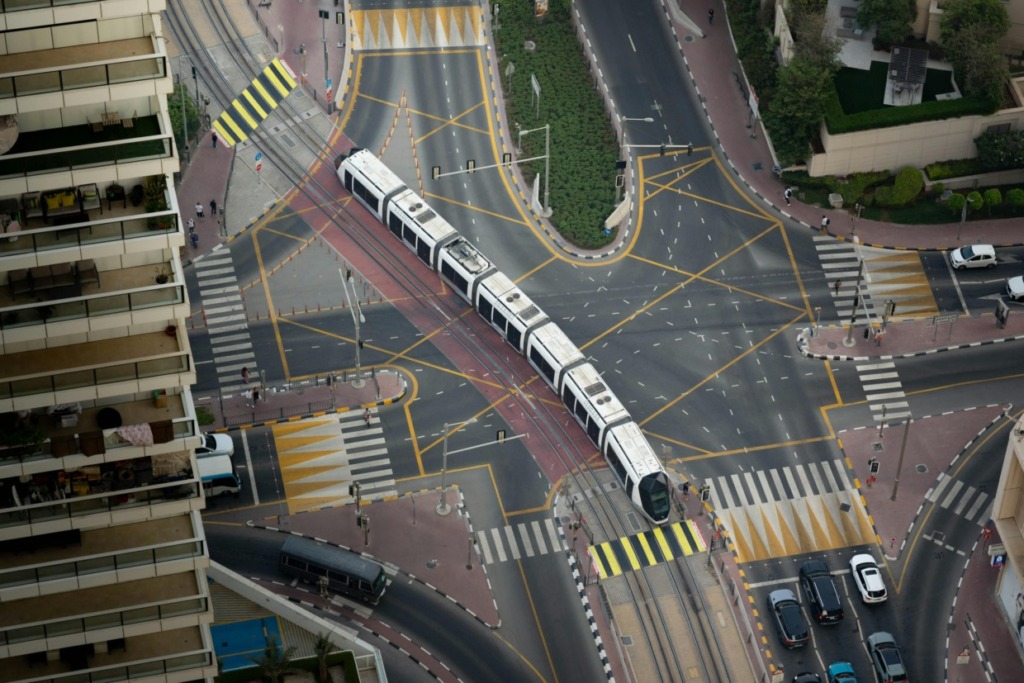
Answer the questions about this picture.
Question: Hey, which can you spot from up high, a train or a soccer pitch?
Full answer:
Looking from above, you can make out a train.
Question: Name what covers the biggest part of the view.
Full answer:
For the most part, this view shows paved ground.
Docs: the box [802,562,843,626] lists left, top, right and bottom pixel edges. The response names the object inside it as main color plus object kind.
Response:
black car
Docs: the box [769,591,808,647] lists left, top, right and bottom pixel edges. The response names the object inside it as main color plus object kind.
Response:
black car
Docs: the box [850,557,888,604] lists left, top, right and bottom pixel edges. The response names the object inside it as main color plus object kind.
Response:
white car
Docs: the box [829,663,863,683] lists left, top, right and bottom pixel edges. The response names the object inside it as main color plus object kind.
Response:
blue car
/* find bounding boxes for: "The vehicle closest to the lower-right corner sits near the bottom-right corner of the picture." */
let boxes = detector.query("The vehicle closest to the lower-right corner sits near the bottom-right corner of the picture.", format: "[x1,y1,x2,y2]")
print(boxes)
[868,634,909,683]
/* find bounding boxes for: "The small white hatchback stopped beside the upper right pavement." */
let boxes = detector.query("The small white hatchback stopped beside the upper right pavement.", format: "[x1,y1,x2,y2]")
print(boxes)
[949,243,999,271]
